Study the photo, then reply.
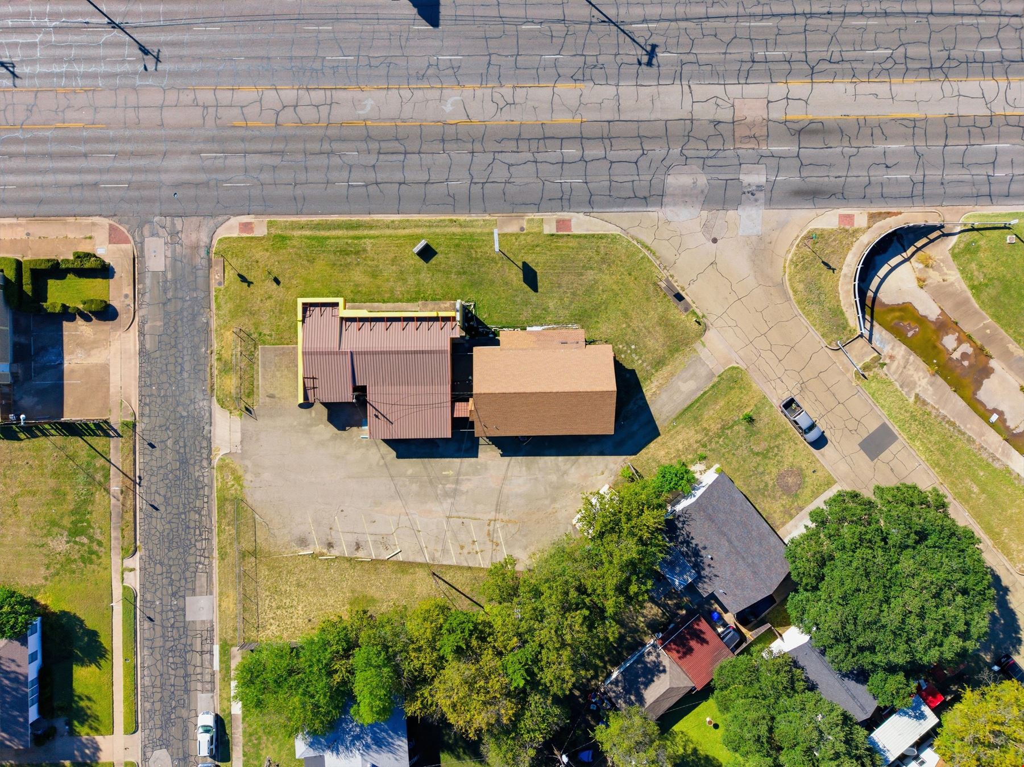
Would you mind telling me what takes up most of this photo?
paved ground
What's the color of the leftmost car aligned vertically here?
white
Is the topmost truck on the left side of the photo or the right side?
right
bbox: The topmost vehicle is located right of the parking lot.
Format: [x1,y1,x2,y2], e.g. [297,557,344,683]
[782,394,824,443]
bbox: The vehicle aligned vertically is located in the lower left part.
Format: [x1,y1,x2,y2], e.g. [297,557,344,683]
[193,713,215,763]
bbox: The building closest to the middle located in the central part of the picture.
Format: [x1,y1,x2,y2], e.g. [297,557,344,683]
[460,329,619,436]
